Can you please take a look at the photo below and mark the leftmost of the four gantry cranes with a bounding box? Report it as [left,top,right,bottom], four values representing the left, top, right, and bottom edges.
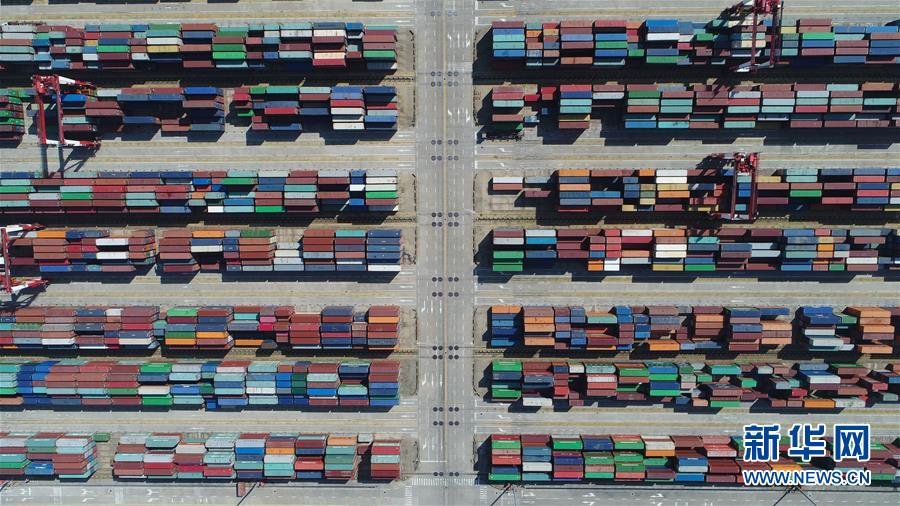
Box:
[0,223,49,292]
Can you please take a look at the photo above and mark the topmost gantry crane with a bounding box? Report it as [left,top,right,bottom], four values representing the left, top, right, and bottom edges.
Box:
[722,0,780,73]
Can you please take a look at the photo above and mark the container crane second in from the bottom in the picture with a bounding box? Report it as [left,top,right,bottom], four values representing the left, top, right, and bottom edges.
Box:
[705,153,760,221]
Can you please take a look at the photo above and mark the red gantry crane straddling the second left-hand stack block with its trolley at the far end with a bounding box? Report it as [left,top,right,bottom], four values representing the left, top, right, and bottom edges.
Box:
[32,75,100,146]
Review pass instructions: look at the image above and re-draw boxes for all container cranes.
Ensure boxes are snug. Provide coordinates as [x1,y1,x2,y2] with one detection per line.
[705,153,760,221]
[32,75,100,146]
[0,223,49,292]
[722,0,780,73]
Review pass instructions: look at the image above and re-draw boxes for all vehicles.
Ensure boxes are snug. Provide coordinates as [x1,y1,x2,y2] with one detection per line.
[0,20,46,27]
[482,133,521,139]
